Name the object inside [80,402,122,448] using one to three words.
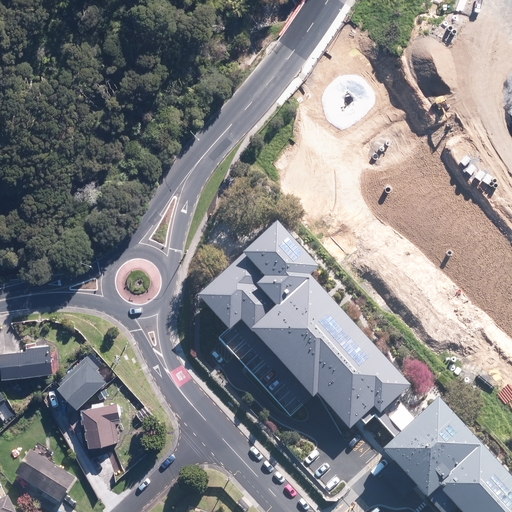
house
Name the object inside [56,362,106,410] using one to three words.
house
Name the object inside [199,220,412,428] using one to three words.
building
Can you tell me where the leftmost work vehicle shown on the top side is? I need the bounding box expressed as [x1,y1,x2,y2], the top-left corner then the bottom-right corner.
[436,94,448,118]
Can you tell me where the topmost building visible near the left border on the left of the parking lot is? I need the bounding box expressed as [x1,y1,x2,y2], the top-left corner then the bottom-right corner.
[0,344,58,380]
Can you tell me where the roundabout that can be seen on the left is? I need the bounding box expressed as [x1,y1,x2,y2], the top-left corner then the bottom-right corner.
[116,258,162,305]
